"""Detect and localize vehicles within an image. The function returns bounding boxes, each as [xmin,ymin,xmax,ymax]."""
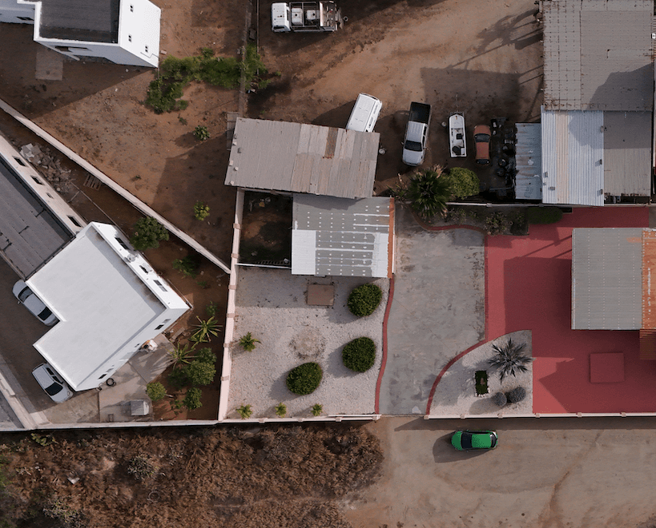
[343,92,380,131]
[10,280,60,332]
[452,429,499,453]
[470,124,493,166]
[401,100,432,167]
[269,0,342,32]
[26,361,74,406]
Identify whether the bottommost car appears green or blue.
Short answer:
green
